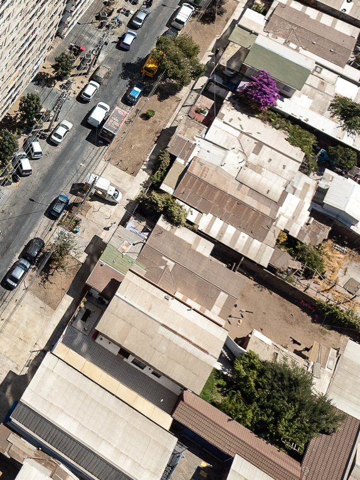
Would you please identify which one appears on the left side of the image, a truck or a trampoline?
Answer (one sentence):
There is a truck on the left side of the image.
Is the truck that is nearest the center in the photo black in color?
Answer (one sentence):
No, the truck that is nearest the center is actually white.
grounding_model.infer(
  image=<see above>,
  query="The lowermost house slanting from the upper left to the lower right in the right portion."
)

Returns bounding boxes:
[169,388,304,480]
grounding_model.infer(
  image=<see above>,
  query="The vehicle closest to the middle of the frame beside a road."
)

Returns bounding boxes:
[86,171,126,208]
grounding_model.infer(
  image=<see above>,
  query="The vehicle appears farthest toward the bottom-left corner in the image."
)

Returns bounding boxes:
[4,259,32,289]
